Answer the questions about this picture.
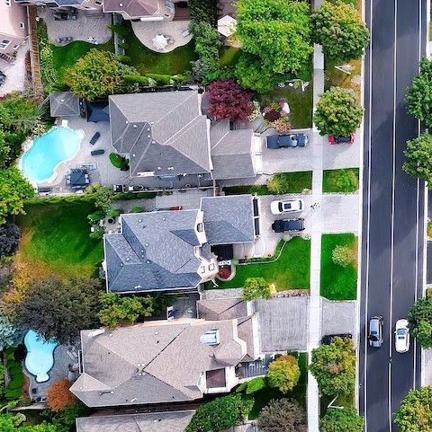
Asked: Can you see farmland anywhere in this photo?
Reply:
No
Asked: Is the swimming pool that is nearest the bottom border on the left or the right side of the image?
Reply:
left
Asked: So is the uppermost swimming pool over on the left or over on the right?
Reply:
left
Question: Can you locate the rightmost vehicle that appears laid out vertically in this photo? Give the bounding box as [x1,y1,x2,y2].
[395,319,409,352]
